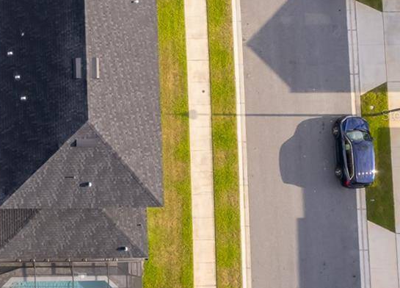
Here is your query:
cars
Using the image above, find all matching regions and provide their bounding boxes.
[336,117,377,187]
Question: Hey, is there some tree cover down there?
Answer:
No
